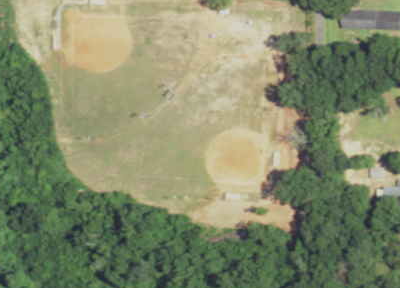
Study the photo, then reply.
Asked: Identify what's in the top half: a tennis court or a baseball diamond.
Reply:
baseball diamond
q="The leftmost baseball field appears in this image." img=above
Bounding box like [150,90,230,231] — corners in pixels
[63,8,198,140]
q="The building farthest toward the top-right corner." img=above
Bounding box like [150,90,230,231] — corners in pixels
[342,11,400,32]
